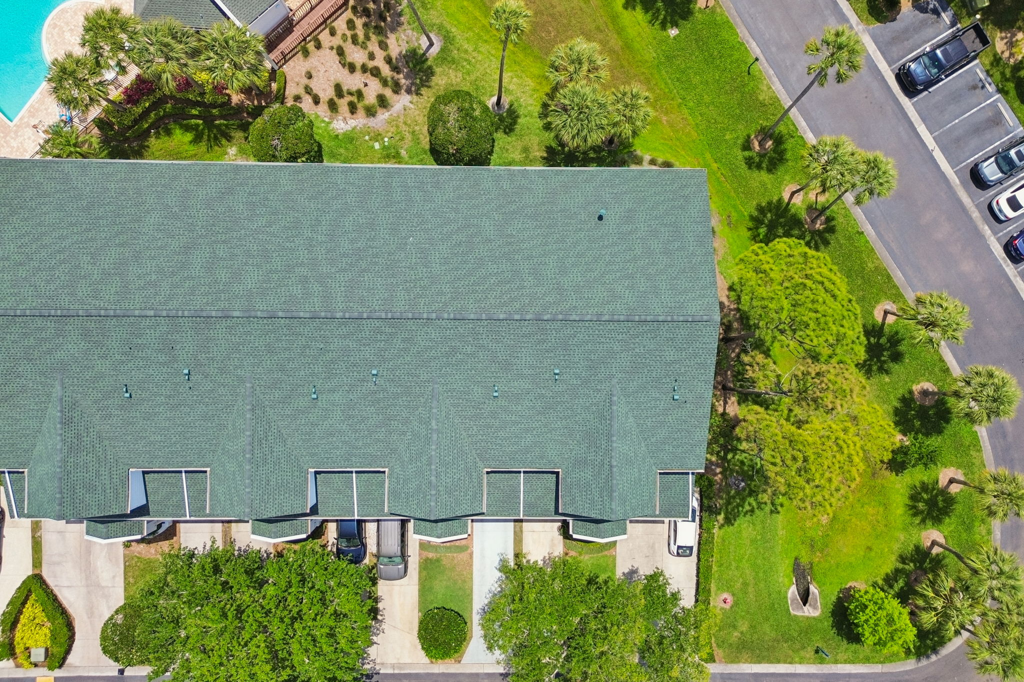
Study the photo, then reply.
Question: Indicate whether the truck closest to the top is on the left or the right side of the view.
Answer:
right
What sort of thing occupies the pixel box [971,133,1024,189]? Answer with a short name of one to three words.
car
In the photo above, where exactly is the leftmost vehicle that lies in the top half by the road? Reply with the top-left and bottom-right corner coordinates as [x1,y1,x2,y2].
[895,20,992,95]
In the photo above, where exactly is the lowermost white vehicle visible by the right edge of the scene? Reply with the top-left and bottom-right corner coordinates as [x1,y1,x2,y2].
[990,182,1024,225]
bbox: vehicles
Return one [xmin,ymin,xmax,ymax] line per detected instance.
[990,182,1024,225]
[668,493,704,558]
[895,20,992,95]
[329,520,365,564]
[373,520,410,580]
[971,133,1024,189]
[1005,229,1024,263]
